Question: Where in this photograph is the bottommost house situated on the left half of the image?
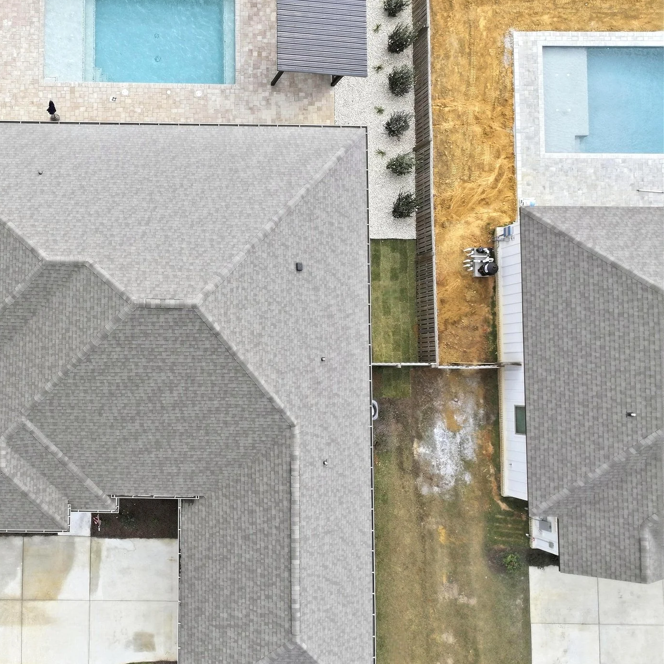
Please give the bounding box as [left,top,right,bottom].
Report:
[0,122,375,664]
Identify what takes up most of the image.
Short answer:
buildings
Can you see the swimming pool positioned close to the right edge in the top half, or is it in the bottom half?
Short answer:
top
